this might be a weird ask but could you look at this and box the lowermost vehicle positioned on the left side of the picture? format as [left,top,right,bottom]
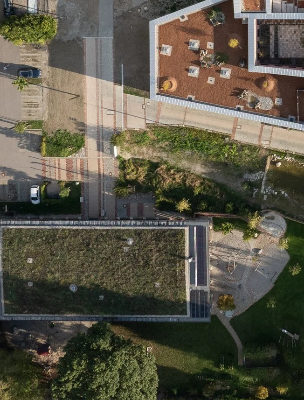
[26,185,40,207]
